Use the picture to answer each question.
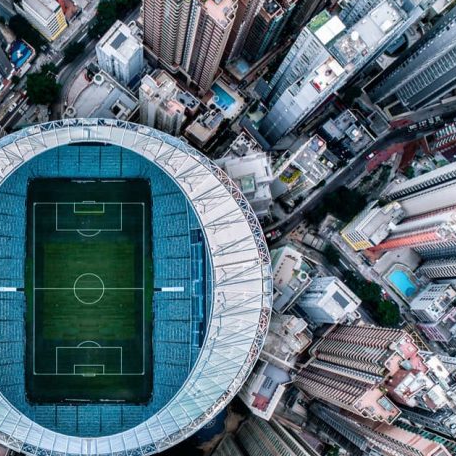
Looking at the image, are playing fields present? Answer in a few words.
Yes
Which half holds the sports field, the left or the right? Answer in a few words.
left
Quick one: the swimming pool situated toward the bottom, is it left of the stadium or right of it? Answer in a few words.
to the right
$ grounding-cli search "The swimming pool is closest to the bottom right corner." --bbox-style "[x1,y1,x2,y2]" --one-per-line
[386,267,416,299]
